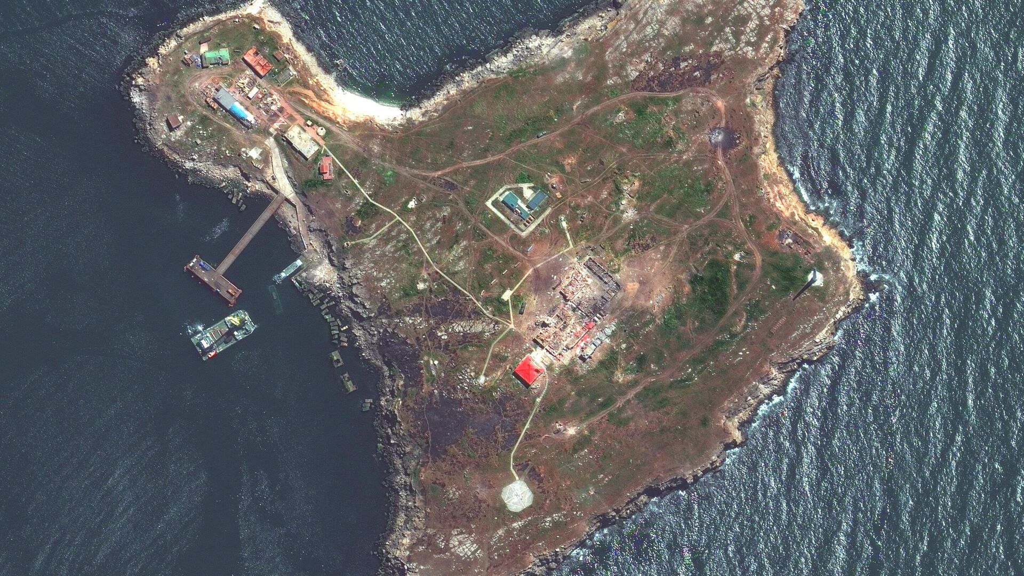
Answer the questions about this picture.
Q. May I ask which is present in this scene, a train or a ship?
ship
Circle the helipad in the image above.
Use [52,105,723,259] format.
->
[501,480,534,512]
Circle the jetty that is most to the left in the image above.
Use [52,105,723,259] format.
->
[184,196,281,307]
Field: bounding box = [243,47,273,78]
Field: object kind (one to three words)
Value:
house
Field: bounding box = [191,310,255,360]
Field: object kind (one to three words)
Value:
ship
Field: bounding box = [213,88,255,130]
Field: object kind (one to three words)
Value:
building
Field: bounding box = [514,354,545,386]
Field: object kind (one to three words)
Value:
house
